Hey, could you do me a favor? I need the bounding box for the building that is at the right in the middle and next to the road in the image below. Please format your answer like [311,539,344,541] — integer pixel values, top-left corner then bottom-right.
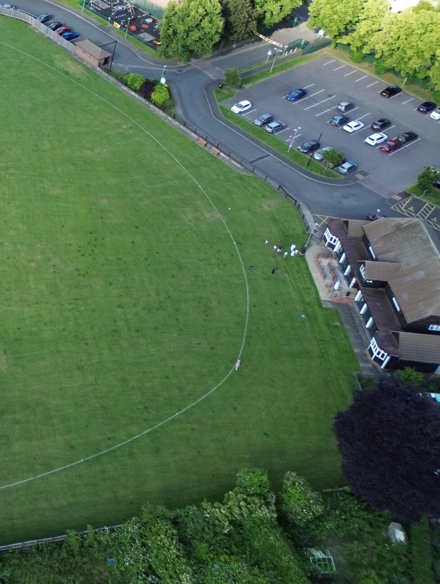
[329,219,440,378]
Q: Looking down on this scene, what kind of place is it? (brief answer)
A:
sports ground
